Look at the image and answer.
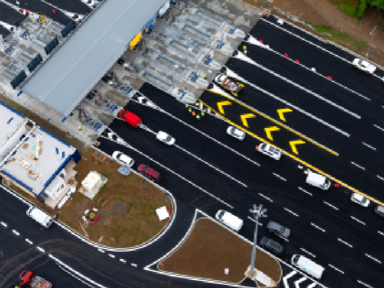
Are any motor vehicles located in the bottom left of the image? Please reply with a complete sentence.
Yes, I can see a motor vehicle in the bottom left of the image.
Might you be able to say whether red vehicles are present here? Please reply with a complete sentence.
Yes, the image includes a red vehicle.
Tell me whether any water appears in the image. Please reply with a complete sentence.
No, there's no water in this view.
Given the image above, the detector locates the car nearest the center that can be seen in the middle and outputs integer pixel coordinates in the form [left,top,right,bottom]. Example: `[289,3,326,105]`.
[156,131,176,146]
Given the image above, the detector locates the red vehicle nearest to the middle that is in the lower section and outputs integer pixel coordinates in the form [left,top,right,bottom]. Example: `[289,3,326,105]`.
[138,166,161,182]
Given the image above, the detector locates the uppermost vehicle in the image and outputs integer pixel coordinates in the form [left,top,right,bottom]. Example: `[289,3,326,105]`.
[351,59,376,75]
